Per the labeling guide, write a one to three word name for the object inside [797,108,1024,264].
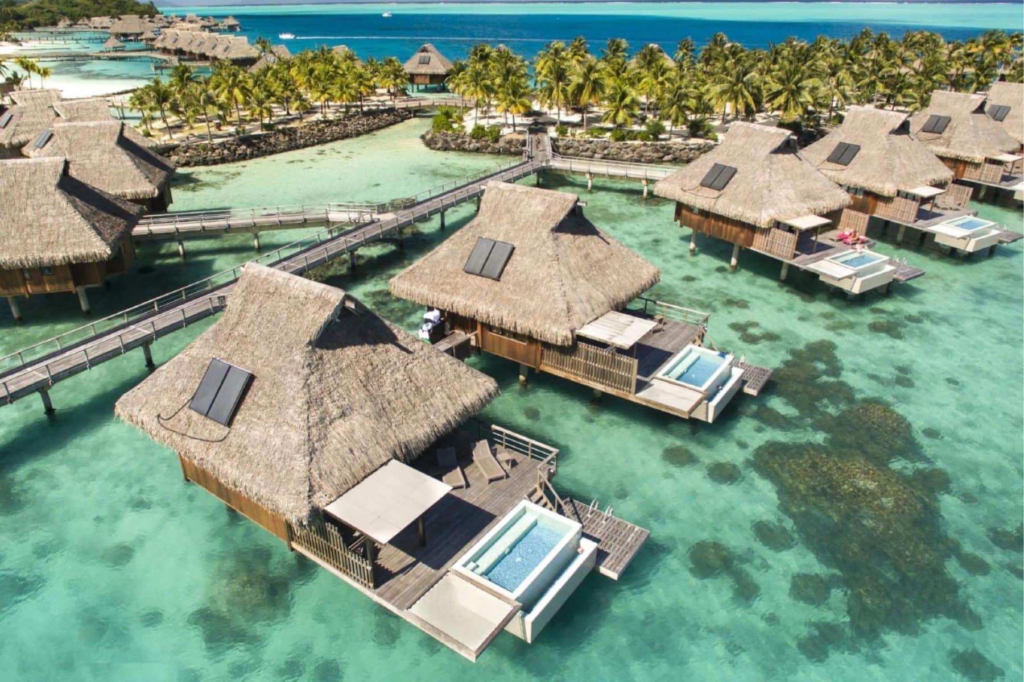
house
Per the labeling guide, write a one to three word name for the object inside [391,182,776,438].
house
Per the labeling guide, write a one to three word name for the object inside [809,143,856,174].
solar panel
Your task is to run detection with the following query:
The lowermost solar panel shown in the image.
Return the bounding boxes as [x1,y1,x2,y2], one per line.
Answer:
[172,355,253,439]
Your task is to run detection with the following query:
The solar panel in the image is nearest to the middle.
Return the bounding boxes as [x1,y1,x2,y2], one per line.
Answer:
[459,245,507,288]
